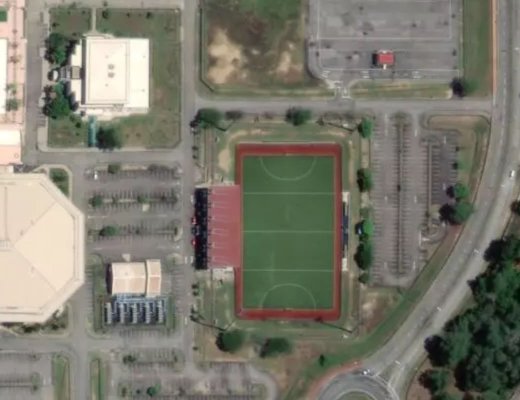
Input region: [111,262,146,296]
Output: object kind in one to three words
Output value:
building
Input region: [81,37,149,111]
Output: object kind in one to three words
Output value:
building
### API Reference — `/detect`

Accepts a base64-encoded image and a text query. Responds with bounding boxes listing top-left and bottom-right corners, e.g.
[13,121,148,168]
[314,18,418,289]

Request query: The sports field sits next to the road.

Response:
[235,144,342,321]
